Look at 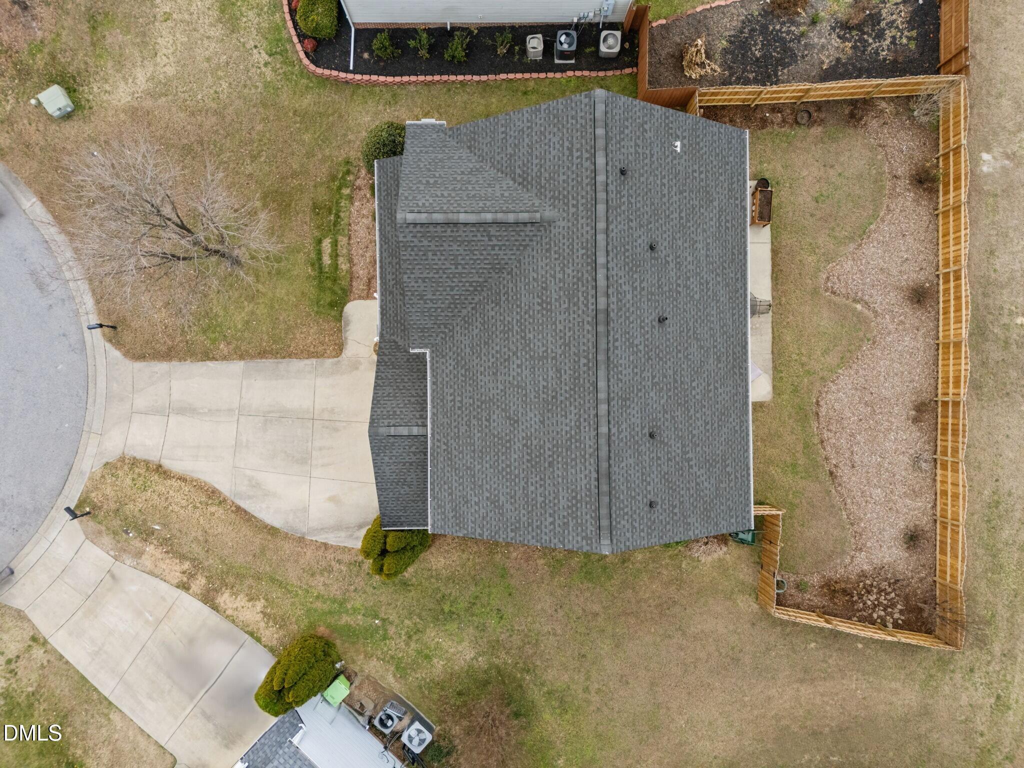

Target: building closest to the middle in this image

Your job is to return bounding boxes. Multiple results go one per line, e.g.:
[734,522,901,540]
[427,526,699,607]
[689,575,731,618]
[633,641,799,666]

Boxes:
[368,90,754,555]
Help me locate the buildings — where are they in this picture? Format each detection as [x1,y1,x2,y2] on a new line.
[227,692,408,768]
[339,0,634,68]
[368,90,754,555]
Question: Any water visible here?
No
